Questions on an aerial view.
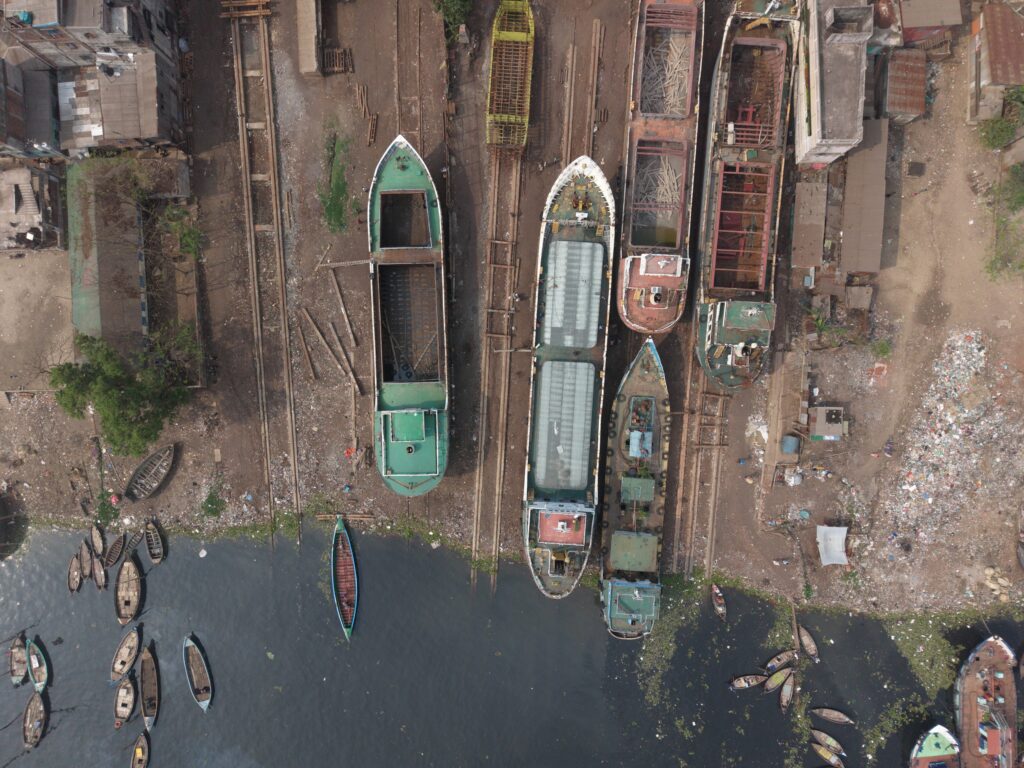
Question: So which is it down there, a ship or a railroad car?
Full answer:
Visible in the photo is a ship.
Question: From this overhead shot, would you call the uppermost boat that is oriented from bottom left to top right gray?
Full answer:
Yes, gray is the color of the uppermost boat that is oriented from bottom left to top right.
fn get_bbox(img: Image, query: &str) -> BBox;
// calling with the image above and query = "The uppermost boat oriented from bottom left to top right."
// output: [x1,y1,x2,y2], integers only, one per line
[125,445,175,503]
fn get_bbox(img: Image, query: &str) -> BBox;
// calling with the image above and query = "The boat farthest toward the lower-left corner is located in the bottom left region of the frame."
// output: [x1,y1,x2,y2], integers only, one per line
[21,693,46,752]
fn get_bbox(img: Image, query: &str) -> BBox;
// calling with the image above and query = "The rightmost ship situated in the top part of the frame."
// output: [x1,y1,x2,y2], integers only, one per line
[692,0,799,388]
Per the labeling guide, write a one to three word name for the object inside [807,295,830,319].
shed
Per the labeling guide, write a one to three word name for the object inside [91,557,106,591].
boat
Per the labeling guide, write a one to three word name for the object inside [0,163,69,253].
building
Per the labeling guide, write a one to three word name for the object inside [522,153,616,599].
ship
